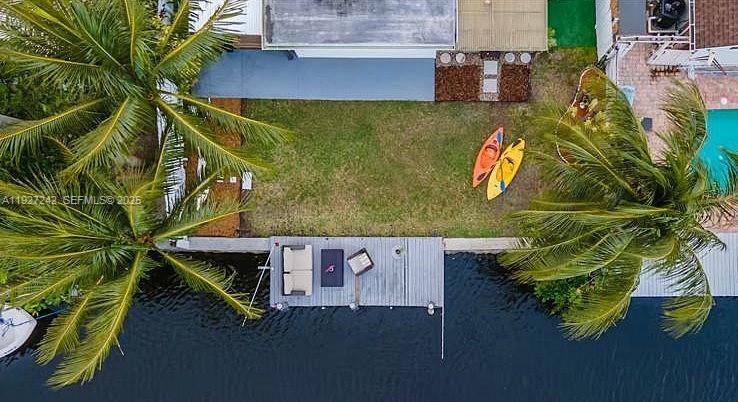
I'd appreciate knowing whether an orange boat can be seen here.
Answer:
Yes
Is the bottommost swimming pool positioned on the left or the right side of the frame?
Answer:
right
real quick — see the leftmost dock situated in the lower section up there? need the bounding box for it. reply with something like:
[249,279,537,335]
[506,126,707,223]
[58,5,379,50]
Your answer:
[270,237,443,310]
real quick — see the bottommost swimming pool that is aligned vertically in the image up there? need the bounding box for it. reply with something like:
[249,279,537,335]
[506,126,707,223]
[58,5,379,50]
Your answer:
[701,97,738,200]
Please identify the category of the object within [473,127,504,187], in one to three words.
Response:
boat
